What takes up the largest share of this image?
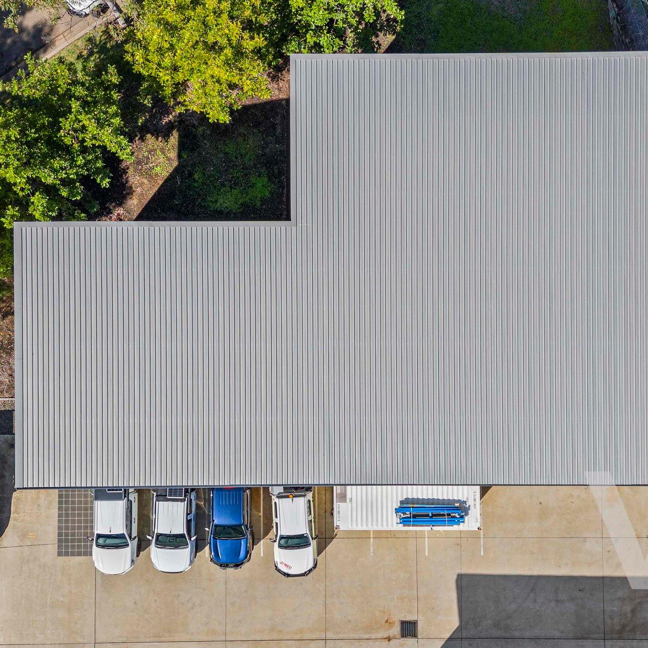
buildings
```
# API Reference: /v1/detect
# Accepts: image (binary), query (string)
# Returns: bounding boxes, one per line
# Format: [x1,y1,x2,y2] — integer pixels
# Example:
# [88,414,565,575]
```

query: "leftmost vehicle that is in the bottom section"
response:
[88,487,142,577]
